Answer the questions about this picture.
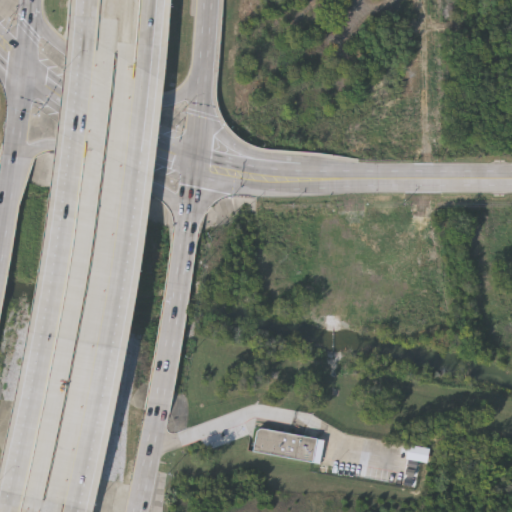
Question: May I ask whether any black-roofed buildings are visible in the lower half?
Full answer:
No, no black-roofed building is visible in the lower half.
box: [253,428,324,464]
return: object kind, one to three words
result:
building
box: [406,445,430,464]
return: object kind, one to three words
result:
shed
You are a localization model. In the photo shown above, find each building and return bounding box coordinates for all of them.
[253,428,324,464]
[406,445,430,464]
